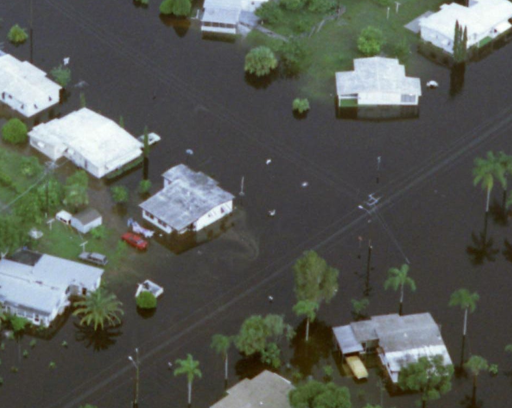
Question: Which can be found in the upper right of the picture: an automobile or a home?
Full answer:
You can see a home in the upper right of the picture.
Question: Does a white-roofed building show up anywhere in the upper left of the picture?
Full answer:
Yes, in the upper left of the picture there is a white-roofed building.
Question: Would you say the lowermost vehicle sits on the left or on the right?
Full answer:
The lowermost vehicle appears in the right half of the scene.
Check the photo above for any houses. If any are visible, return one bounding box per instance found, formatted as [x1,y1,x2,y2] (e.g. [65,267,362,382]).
[421,0,512,57]
[330,310,457,399]
[201,0,266,37]
[29,107,141,180]
[210,366,304,408]
[0,246,103,329]
[335,55,421,109]
[0,55,62,121]
[139,159,235,241]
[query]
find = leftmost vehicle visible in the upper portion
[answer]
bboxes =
[133,130,167,149]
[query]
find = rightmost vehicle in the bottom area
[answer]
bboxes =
[342,351,369,383]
